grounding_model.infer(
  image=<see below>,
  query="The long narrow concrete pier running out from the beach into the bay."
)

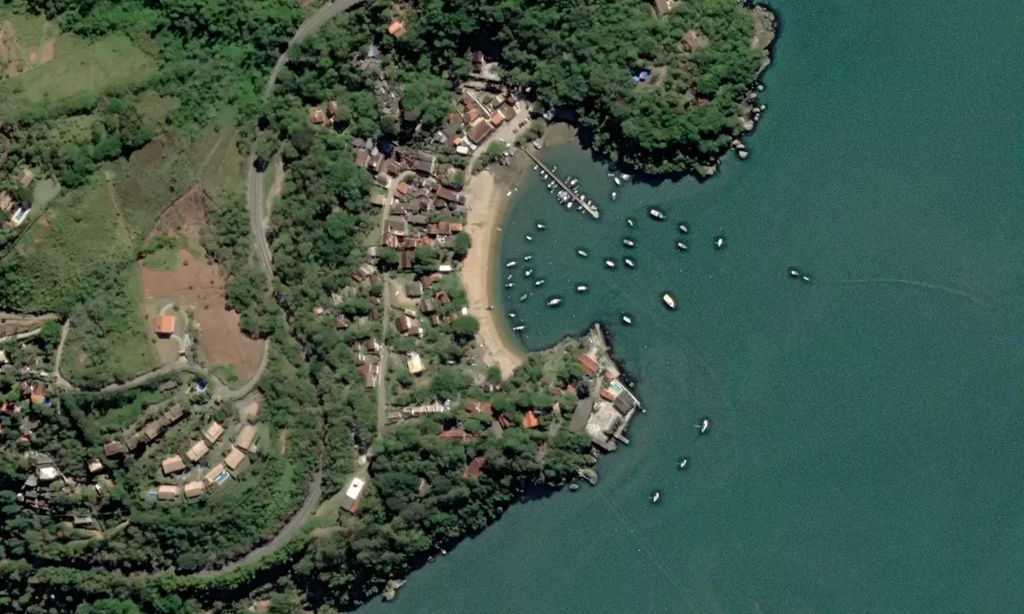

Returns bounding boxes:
[521,147,597,217]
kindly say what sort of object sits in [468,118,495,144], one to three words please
house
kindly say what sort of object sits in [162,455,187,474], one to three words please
house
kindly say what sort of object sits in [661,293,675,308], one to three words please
boat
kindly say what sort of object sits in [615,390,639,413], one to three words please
building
